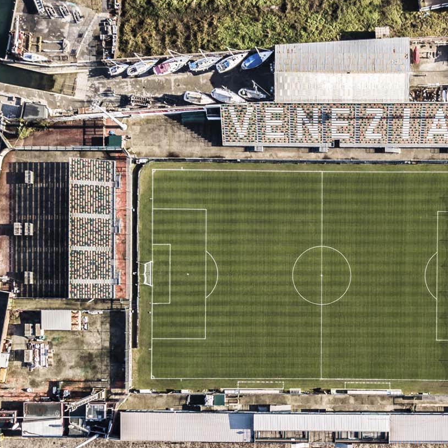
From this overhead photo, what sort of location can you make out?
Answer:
sports ground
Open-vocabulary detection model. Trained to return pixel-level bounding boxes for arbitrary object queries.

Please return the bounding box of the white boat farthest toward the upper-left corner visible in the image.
[23,51,48,64]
